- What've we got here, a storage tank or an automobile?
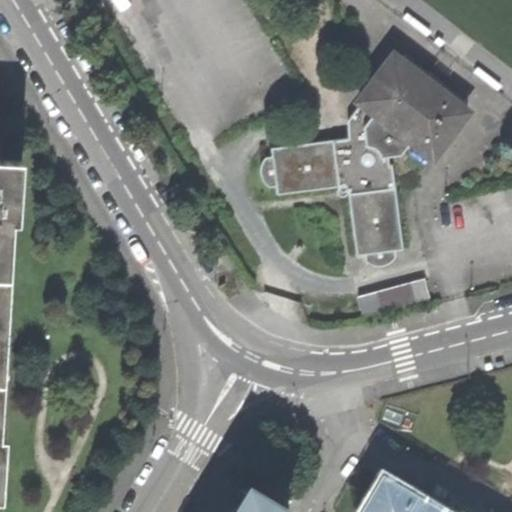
automobile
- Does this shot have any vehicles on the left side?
Yes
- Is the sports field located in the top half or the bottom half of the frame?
top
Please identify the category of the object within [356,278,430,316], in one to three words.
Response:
building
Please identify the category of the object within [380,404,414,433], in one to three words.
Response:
shed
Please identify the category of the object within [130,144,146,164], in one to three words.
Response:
car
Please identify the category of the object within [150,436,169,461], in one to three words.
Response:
vehicle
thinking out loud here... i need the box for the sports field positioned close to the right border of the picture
[422,0,512,68]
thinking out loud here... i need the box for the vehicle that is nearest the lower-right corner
[339,454,358,479]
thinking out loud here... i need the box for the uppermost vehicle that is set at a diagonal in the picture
[54,18,70,38]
